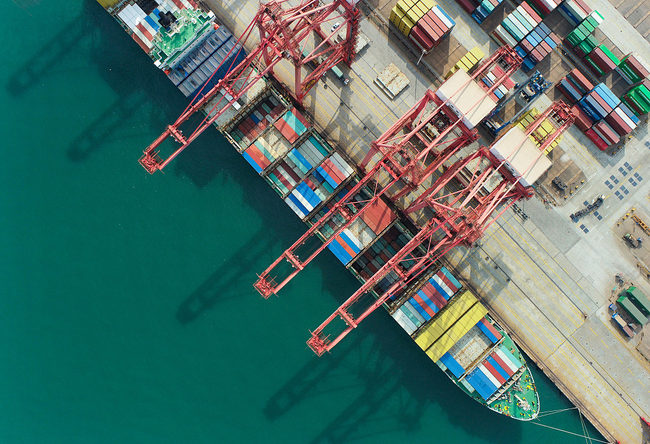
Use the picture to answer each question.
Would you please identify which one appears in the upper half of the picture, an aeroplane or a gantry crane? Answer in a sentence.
Visible in the upper half of the picture is a gantry crane.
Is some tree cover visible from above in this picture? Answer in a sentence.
No, the scene doesn't show any tree cover.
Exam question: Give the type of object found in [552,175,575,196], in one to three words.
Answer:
work vehicle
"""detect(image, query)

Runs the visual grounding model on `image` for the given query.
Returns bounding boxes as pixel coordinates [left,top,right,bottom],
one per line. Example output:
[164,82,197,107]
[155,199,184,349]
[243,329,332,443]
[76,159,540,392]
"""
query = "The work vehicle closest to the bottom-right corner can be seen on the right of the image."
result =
[625,233,650,254]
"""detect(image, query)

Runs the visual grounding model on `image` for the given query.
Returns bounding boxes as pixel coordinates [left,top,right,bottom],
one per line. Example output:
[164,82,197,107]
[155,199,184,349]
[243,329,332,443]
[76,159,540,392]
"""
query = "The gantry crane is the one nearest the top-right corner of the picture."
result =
[479,68,554,137]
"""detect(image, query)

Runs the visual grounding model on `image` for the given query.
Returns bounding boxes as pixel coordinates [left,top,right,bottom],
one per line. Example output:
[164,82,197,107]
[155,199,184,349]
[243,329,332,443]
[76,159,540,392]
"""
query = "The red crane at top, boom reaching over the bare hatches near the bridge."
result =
[131,0,363,179]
